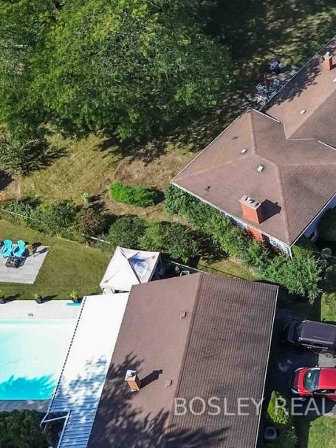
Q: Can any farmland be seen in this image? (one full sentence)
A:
No, no farmland is visible.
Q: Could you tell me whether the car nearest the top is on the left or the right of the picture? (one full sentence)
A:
The car nearest the top appears in the right half of the scene.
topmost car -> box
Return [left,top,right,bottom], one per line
[279,316,336,359]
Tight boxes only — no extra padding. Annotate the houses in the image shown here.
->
[42,269,281,448]
[171,36,336,254]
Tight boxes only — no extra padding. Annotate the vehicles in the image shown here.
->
[288,361,336,401]
[279,316,336,359]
